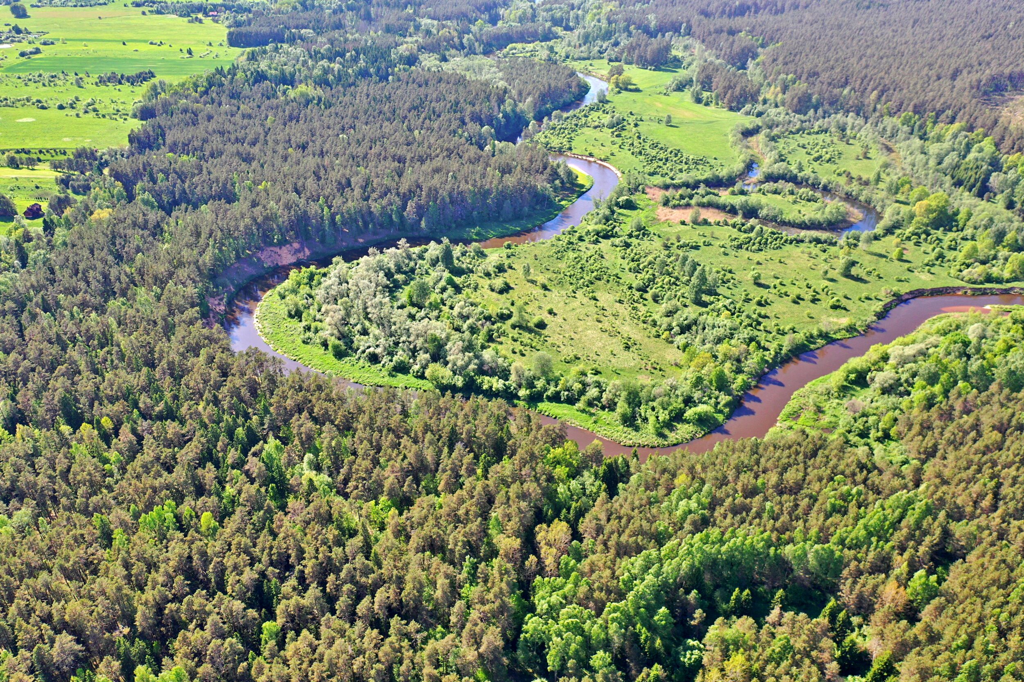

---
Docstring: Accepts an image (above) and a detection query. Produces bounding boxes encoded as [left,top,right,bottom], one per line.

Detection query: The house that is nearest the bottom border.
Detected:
[17,200,45,224]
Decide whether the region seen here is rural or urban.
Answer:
rural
